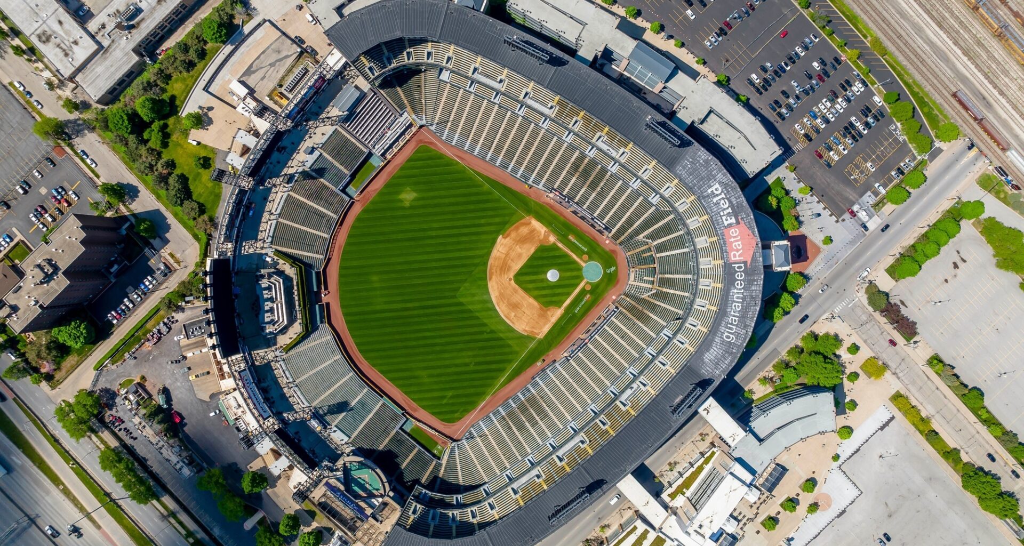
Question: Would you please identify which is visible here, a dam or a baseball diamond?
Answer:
baseball diamond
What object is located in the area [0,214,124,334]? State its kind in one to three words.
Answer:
building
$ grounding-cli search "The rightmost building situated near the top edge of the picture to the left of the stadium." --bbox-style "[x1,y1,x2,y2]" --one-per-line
[75,0,199,106]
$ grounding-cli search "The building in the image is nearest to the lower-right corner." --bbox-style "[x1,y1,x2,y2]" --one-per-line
[730,384,836,483]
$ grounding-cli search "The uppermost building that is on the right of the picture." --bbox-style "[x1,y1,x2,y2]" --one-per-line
[601,42,679,110]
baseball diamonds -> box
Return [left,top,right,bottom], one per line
[320,126,628,442]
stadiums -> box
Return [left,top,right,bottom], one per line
[198,0,764,546]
